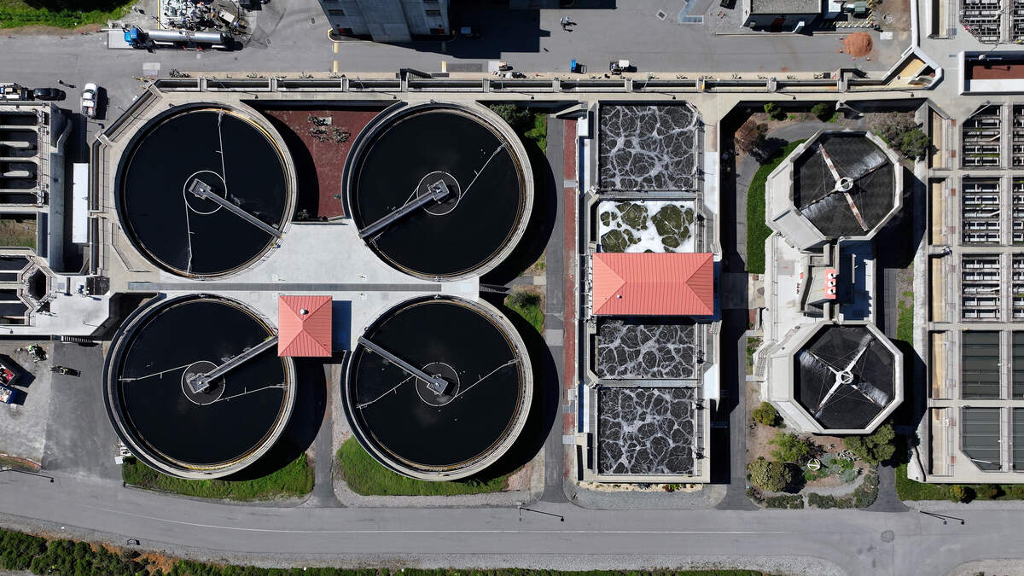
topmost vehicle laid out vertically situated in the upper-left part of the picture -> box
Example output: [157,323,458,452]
[80,83,98,118]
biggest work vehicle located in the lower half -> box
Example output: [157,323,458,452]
[25,348,44,365]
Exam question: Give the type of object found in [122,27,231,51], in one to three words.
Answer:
truck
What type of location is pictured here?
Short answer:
industrial area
